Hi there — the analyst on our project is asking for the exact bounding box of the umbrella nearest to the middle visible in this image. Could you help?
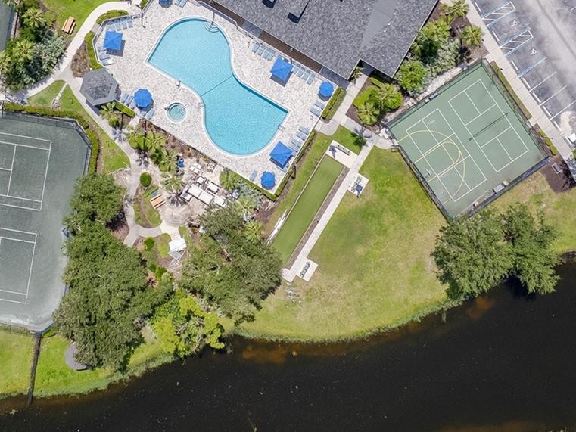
[260,173,276,188]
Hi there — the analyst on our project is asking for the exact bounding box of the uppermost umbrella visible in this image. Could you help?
[103,32,122,51]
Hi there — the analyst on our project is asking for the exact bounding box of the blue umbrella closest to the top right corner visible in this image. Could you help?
[319,82,334,97]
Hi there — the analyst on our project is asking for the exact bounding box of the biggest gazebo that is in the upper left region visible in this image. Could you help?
[82,67,119,107]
